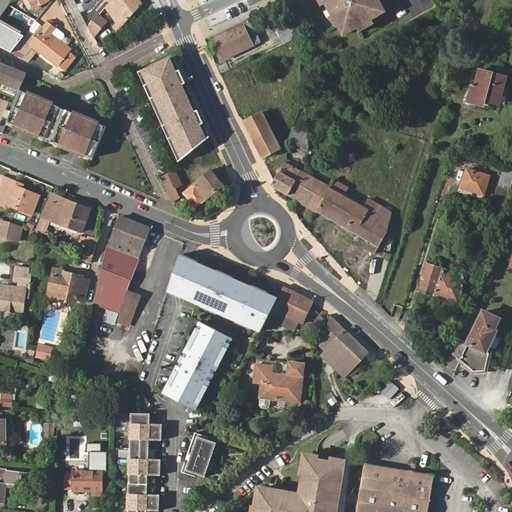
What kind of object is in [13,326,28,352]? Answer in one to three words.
swimming pool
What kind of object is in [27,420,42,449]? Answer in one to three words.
swimming pool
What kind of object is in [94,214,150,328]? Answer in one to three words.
building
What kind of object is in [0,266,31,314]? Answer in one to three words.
house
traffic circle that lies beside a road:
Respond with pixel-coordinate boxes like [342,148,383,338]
[228,198,296,268]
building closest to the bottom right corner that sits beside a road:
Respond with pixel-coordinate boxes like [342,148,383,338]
[356,462,435,512]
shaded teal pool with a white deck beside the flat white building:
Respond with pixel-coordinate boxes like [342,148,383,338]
[6,6,40,34]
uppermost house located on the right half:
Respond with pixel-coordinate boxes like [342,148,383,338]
[314,0,384,37]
